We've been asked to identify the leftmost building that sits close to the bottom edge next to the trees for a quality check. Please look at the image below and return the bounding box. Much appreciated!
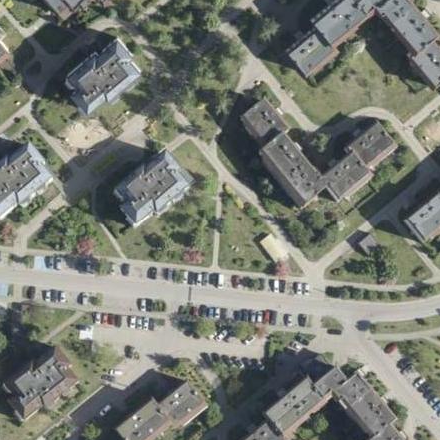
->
[2,346,79,422]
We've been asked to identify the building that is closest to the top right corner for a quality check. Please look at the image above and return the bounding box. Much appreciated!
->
[289,0,440,95]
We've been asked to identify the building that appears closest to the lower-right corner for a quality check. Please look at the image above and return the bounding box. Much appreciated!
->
[246,368,408,440]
